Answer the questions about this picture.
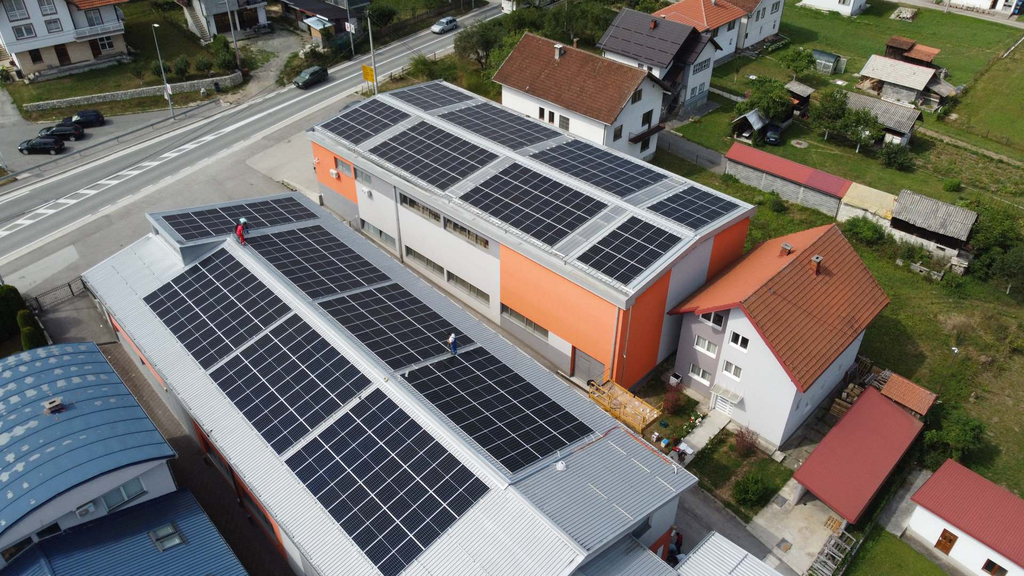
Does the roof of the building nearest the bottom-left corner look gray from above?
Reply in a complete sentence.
No, the roof of the building nearest the bottom-left corner is blue.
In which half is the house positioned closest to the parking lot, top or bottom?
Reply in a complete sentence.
It is in the top half that the house positioned closest to the parking lot appears.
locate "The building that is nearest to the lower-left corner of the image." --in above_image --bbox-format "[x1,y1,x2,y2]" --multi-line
[0,343,254,576]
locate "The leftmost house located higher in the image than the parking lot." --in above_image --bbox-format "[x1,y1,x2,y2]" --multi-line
[0,0,134,82]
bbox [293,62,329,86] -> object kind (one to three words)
car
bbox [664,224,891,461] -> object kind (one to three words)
house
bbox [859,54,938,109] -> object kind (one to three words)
shed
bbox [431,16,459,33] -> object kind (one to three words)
car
